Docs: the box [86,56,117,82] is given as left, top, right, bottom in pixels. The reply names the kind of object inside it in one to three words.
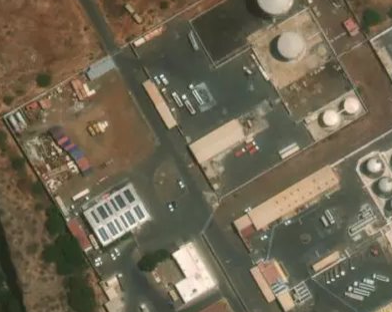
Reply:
building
